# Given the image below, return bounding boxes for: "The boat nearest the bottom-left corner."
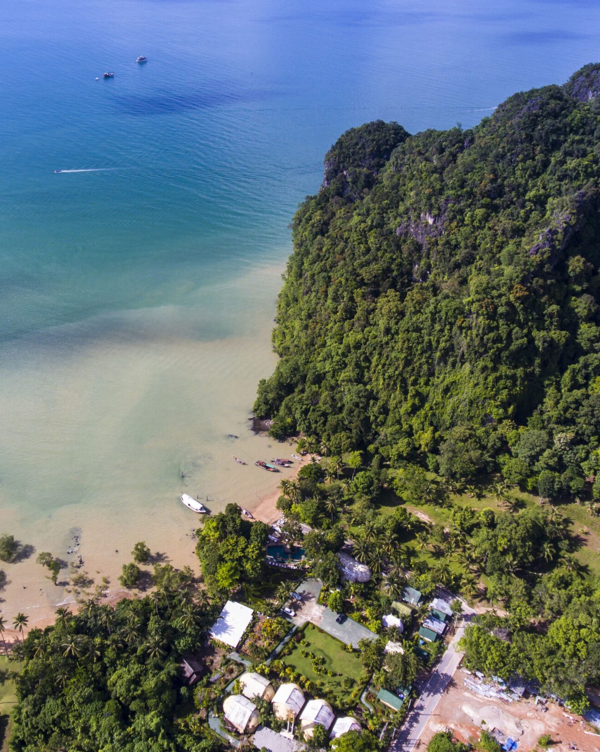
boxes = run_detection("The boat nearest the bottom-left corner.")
[177,490,206,513]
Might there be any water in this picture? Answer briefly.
Yes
